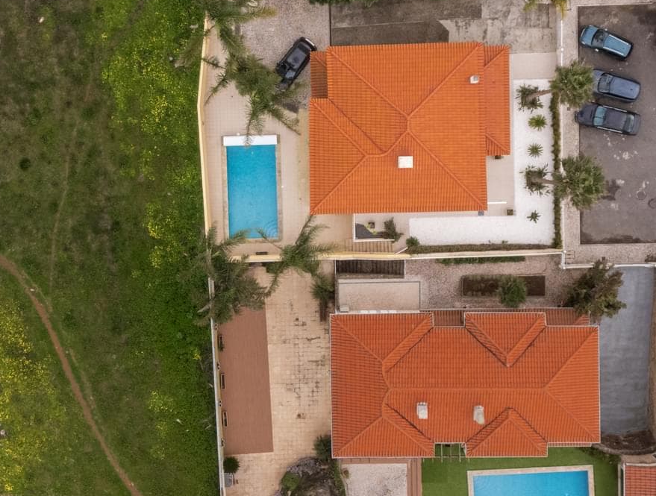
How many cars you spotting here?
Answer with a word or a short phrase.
4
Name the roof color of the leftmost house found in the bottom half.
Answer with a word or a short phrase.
orange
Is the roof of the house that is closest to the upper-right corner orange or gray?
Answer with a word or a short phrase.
orange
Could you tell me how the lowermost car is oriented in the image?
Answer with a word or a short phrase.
from side to side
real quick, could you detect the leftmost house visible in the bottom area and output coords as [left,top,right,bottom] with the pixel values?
[329,309,602,460]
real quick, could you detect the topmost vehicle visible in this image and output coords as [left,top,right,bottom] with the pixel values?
[578,26,635,60]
